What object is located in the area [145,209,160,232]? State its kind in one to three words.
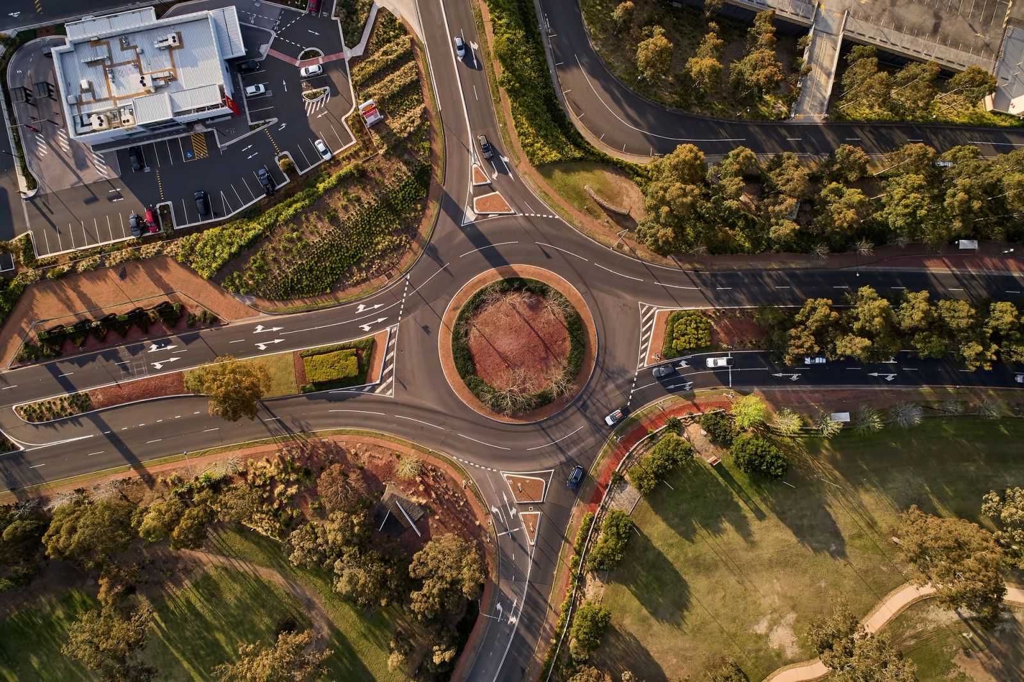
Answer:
car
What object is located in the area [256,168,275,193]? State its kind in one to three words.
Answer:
car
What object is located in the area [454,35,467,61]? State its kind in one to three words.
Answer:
vehicle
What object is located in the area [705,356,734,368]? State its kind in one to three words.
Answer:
vehicle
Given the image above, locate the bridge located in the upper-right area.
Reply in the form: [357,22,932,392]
[793,0,852,117]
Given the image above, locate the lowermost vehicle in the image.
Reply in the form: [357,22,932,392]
[567,464,584,489]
